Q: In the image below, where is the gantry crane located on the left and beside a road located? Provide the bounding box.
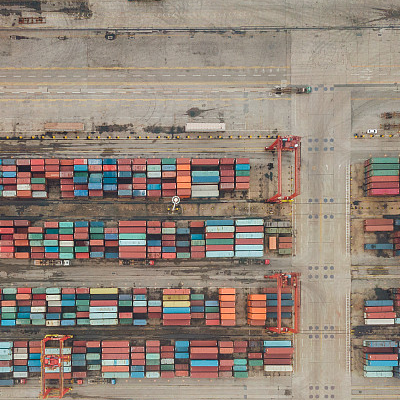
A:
[39,334,73,400]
